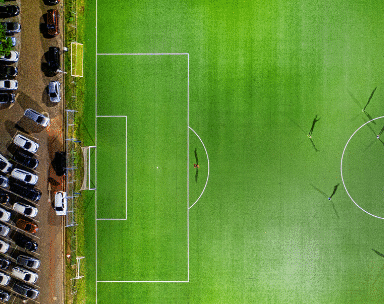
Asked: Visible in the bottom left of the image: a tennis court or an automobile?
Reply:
automobile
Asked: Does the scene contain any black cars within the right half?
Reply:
No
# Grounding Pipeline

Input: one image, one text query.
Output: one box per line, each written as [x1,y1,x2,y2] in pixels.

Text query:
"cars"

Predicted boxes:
[10,265,40,284]
[12,232,41,254]
[0,209,12,224]
[0,4,22,17]
[0,226,12,240]
[53,190,66,215]
[0,175,9,189]
[44,47,60,75]
[13,202,39,219]
[45,9,60,37]
[52,152,66,177]
[12,149,41,170]
[48,80,62,105]
[0,272,12,288]
[0,241,12,256]
[16,253,43,270]
[12,280,41,299]
[0,50,21,63]
[0,91,17,105]
[0,152,14,173]
[9,166,40,186]
[0,257,12,271]
[24,108,49,127]
[0,193,10,206]
[11,181,42,202]
[0,37,18,47]
[0,65,20,77]
[15,216,41,235]
[11,133,41,153]
[0,78,20,91]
